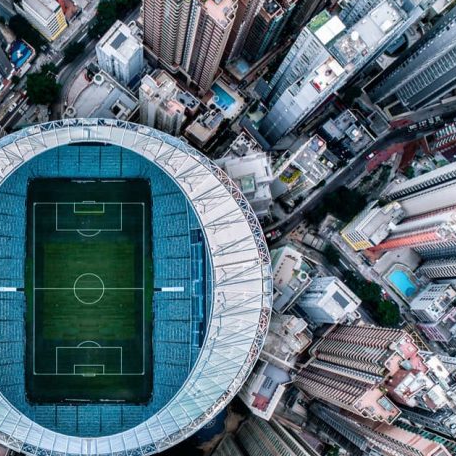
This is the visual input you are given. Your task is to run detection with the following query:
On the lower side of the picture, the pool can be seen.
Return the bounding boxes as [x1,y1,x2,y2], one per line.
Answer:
[386,267,416,299]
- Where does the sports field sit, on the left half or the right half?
left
